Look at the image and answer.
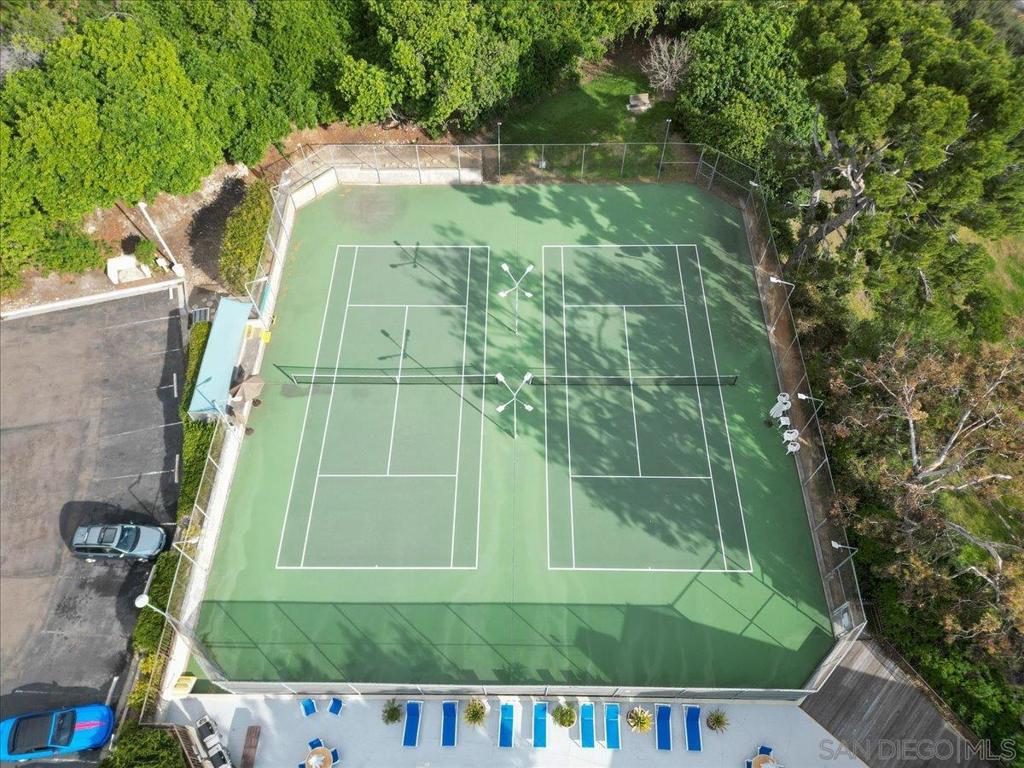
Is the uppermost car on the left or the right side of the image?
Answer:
left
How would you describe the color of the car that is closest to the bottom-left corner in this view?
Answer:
blue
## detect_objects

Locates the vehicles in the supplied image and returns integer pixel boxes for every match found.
[68,521,165,563]
[0,705,115,767]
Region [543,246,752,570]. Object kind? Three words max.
tennis court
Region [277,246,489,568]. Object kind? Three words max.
tennis court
